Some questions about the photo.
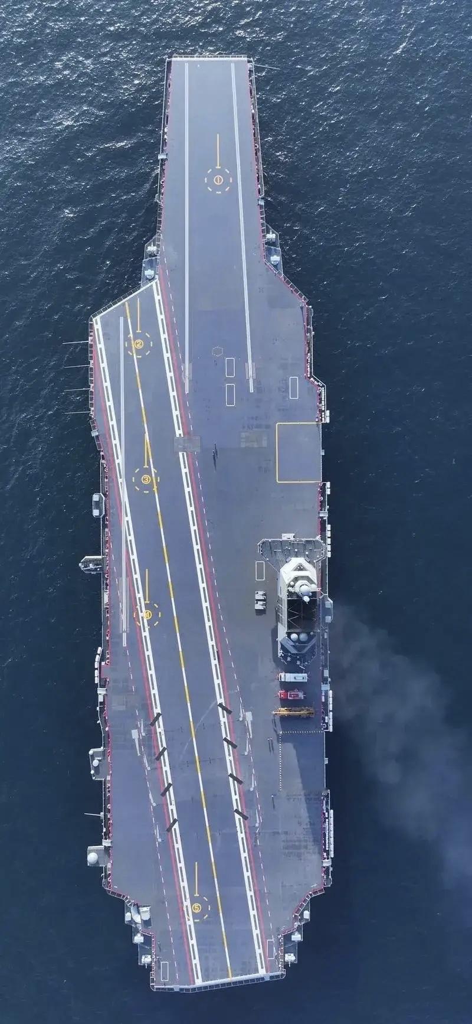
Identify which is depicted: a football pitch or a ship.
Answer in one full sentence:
Looking from above, you can make out a ship.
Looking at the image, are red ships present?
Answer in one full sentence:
No, the frame has no red ship in it.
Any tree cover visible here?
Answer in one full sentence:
No, tree cover can't be seen anywhere here.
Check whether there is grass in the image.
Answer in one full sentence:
No, no grass is visible.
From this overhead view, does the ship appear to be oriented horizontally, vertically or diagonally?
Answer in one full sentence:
Seen from above, the ship lies vertically.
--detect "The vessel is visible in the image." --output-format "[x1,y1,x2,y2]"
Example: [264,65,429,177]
[64,55,334,992]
